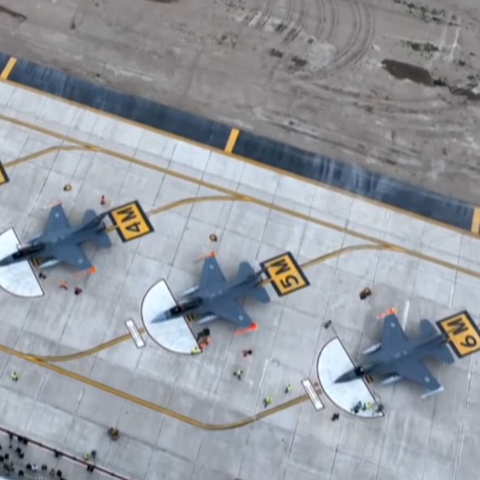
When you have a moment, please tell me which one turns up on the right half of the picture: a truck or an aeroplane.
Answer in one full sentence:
The one visible on the right half of the picture is an aeroplane.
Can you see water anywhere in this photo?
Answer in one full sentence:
No, water can't be seen anywhere here.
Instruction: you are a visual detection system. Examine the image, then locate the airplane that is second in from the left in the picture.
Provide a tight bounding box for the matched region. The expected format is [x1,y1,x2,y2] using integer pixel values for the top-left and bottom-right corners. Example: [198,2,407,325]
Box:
[147,253,269,336]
